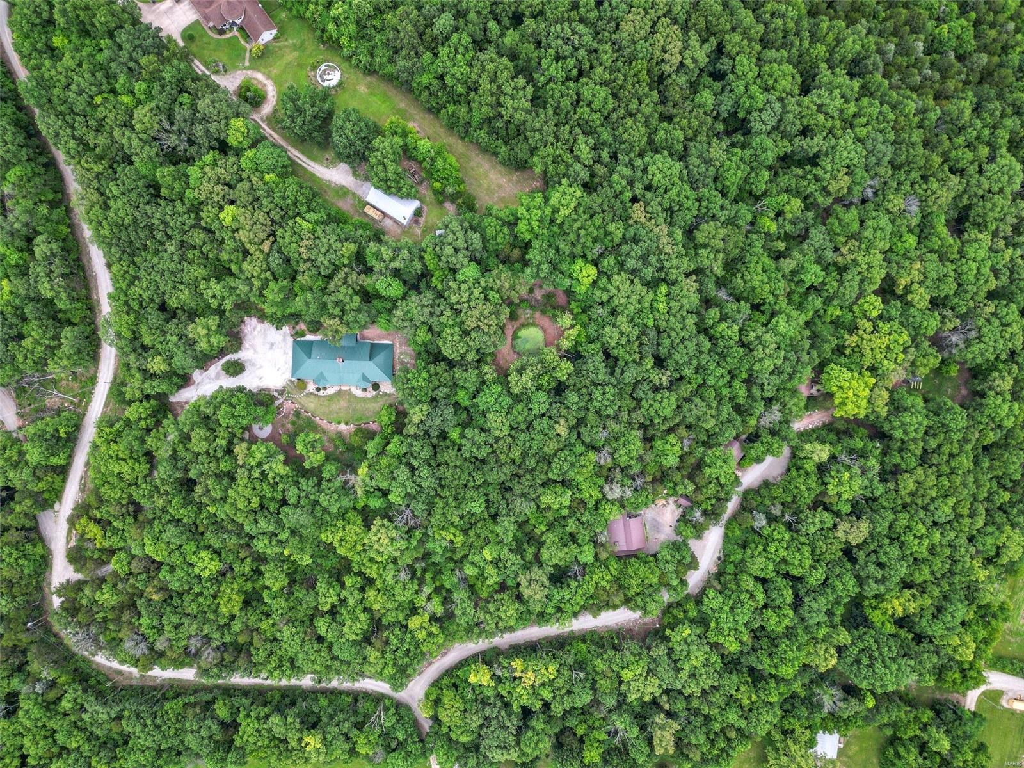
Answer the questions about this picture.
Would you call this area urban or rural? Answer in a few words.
rural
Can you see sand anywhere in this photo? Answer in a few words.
No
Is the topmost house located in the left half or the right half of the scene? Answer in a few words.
left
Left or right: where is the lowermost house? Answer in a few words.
right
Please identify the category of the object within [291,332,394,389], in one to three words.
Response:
house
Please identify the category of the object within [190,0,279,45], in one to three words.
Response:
house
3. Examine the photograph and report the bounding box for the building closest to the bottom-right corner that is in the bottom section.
[812,730,845,759]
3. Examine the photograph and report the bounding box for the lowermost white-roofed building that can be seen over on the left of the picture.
[366,184,421,226]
